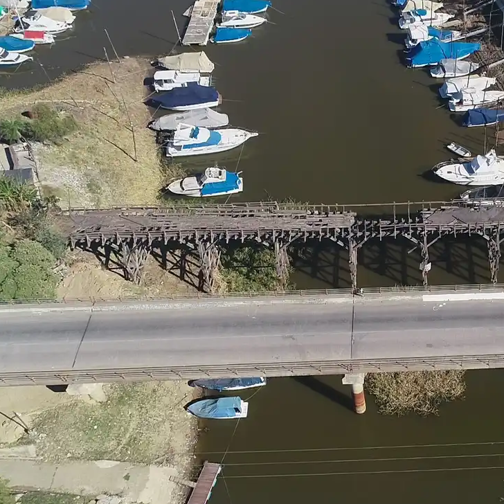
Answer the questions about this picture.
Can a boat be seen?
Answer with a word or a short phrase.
Yes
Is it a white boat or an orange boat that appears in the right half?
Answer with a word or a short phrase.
white boat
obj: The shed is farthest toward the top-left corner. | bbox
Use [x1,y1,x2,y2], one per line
[6,142,38,176]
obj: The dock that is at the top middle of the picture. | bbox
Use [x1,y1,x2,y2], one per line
[186,0,218,47]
